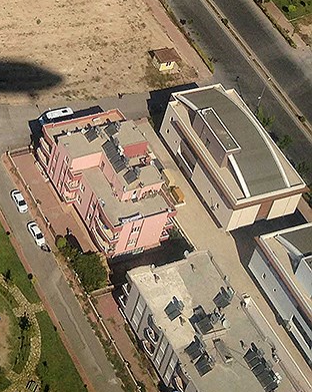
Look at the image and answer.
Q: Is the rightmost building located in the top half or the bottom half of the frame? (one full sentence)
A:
The rightmost building is in the bottom half of the image.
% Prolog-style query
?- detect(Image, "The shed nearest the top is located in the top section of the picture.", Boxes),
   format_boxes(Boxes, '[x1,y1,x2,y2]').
[152,47,177,71]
